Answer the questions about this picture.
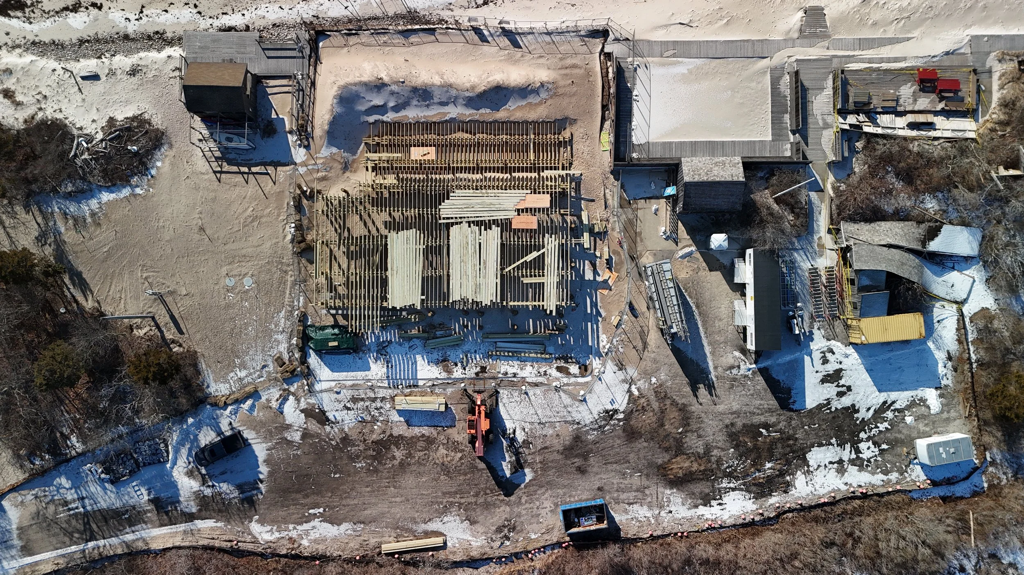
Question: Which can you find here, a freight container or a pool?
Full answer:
This aerial view contains a freight container.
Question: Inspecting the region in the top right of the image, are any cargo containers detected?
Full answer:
No, I can find no cargo container in the top right of the image.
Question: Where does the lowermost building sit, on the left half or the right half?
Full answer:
The lowermost building appears in the right half of the scene.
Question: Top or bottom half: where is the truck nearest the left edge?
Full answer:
The truck nearest the left edge is in the bottom half of the image.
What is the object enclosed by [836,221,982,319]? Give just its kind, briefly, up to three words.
building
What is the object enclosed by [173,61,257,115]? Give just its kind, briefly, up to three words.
shed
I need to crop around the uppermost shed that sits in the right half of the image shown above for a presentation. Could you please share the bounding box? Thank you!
[677,156,750,212]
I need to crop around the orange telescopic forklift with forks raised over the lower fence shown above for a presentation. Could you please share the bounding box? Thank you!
[462,377,500,457]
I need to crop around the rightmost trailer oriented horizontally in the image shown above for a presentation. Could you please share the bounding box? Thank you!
[900,433,974,466]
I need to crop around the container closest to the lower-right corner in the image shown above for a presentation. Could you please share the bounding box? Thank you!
[847,312,925,344]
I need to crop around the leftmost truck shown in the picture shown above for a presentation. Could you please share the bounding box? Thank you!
[191,428,253,470]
